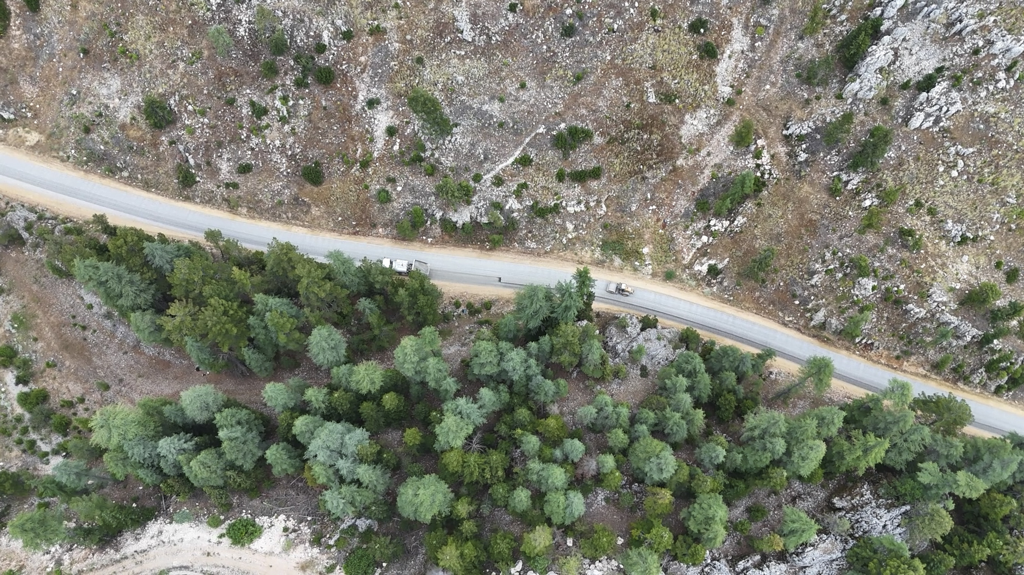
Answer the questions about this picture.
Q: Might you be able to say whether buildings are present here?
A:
No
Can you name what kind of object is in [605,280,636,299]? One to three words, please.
work vehicle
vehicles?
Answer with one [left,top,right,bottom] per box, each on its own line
[605,280,636,299]
[380,257,431,280]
